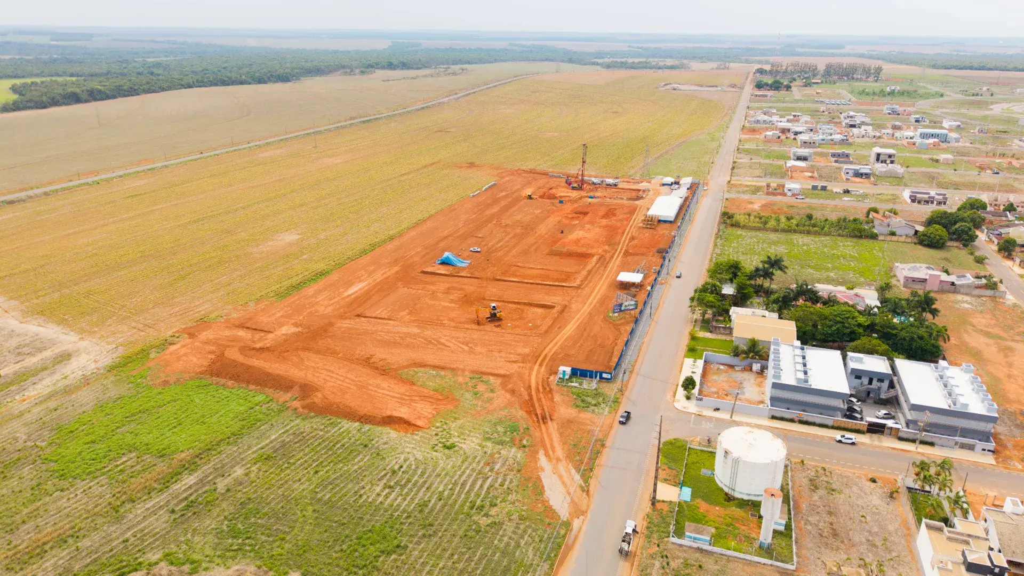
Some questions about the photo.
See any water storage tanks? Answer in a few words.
Yes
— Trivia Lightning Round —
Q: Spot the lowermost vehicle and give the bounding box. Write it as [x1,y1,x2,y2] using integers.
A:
[617,515,645,556]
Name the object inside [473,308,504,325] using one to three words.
work vehicle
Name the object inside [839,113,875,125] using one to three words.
house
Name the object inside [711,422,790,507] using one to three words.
water tank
